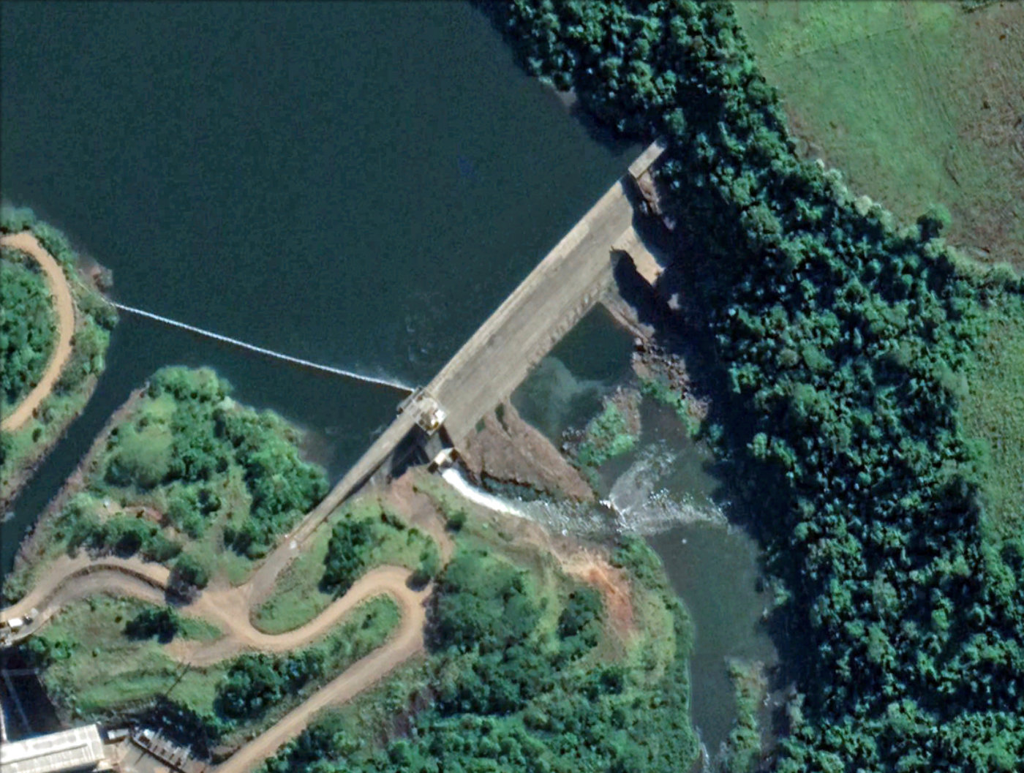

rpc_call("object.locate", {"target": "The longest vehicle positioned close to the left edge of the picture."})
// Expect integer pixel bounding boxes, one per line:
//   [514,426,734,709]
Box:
[7,616,29,628]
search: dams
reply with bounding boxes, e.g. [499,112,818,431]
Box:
[290,139,682,543]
